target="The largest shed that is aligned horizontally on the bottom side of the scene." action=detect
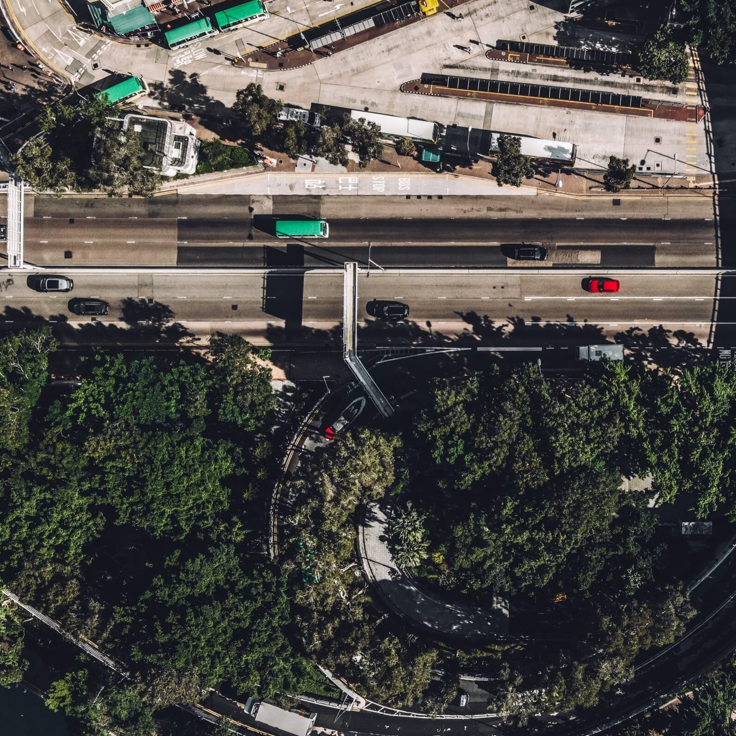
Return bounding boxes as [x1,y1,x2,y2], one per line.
[680,520,711,533]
